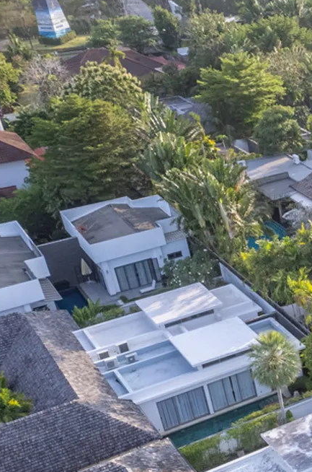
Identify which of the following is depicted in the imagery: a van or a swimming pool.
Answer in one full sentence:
It is a swimming pool that can be seen here.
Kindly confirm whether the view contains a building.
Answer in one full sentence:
Yes, you can see a building in this photo.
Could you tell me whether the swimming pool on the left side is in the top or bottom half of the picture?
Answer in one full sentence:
The swimming pool on the left side sits in the bottom half of the picture.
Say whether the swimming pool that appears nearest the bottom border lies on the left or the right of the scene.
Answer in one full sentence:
It is on the right.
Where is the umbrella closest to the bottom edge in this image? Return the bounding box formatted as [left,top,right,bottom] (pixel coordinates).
[79,255,92,282]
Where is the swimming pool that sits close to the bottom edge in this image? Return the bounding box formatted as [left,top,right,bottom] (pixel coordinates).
[163,390,302,451]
